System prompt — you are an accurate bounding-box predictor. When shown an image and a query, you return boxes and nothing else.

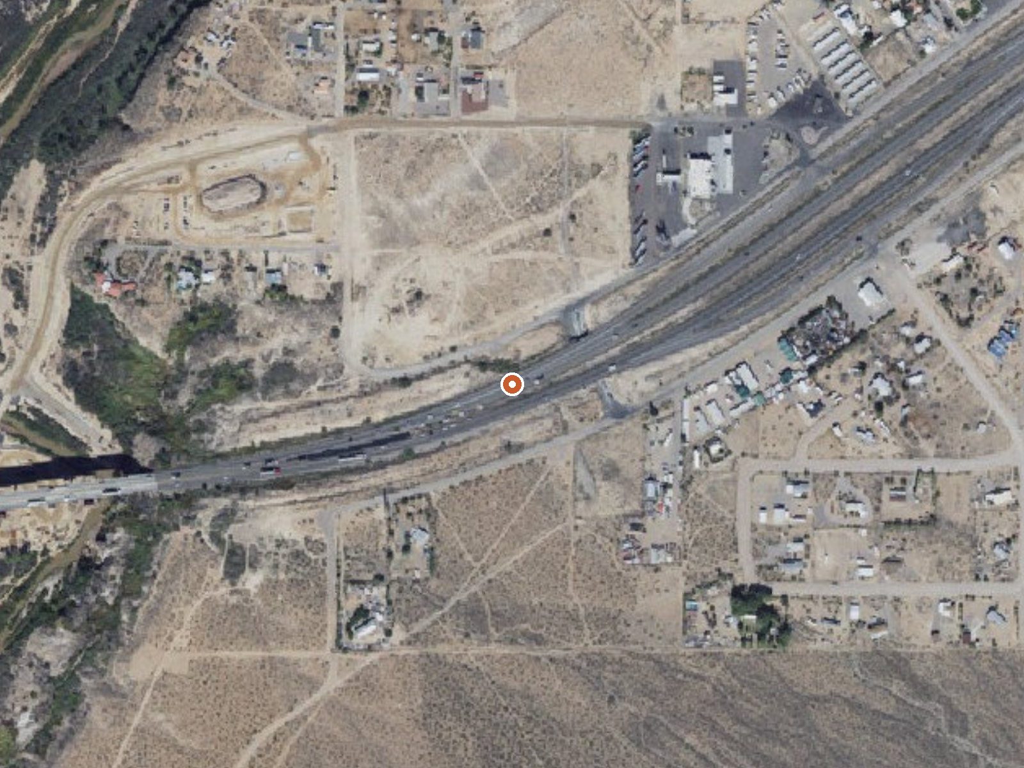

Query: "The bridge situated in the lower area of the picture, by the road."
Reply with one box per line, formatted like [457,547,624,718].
[0,471,159,510]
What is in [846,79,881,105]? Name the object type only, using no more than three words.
shed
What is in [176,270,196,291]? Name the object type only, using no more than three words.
house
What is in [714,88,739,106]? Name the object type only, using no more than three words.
building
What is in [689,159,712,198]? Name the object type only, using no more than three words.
building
